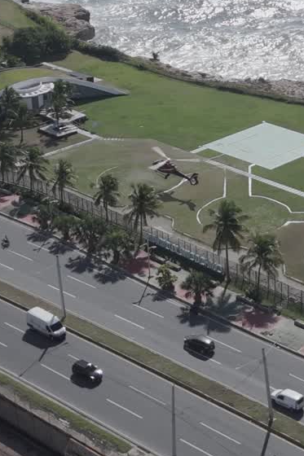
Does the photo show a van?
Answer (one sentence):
Yes, there's a van here.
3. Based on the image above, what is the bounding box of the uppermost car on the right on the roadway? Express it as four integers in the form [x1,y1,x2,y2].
[187,331,222,352]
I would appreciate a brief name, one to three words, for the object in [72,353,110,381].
car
